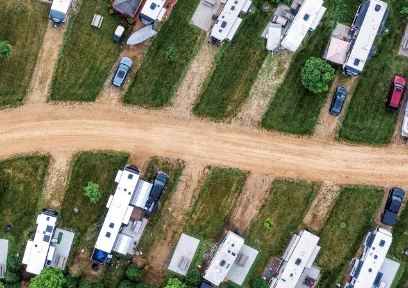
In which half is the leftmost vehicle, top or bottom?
bottom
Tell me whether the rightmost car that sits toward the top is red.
Yes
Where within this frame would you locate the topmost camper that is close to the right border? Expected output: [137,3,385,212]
[343,0,390,77]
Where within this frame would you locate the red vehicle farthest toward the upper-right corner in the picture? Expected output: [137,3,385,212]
[386,76,406,111]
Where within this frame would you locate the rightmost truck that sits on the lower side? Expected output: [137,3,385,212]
[380,186,405,228]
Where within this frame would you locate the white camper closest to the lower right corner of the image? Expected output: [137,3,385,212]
[345,226,392,288]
